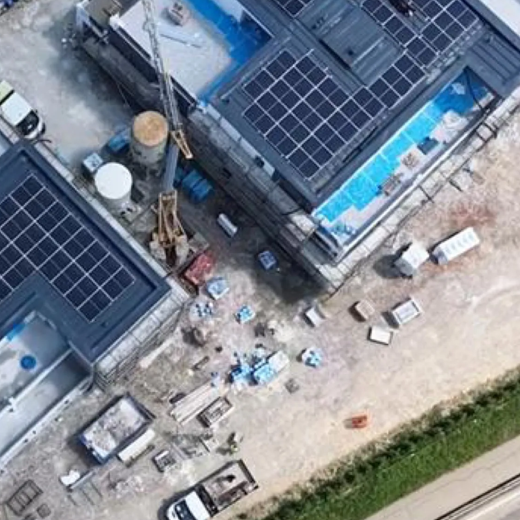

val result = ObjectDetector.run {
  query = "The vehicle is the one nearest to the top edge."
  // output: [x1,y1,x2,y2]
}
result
[0,74,51,149]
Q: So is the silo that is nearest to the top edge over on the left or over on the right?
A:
left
